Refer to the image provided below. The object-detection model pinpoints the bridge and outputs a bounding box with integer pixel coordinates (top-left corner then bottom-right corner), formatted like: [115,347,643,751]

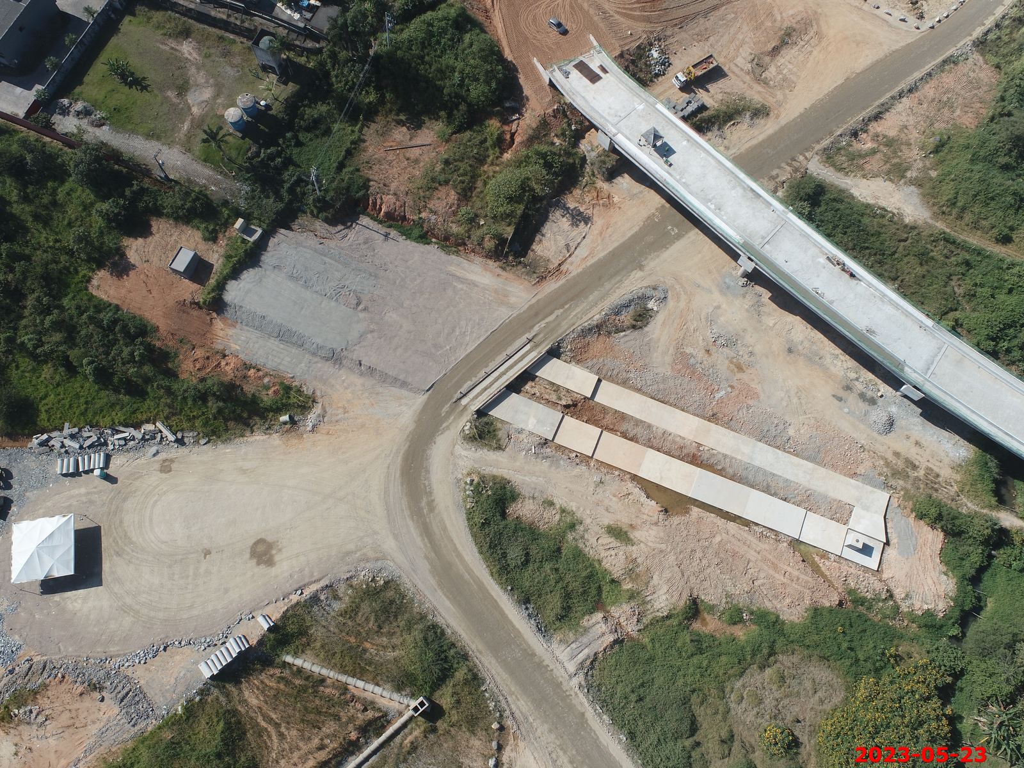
[533,36,1024,462]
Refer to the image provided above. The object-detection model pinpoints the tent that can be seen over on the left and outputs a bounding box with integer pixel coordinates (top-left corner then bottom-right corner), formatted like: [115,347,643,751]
[11,514,86,583]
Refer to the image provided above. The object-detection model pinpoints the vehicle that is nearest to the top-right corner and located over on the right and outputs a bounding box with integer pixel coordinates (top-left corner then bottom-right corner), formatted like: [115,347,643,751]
[676,54,722,85]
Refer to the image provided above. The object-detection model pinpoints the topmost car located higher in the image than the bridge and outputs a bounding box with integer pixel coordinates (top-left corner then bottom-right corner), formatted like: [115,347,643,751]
[548,15,570,34]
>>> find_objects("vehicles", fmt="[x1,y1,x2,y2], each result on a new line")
[548,15,570,34]
[676,54,722,85]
